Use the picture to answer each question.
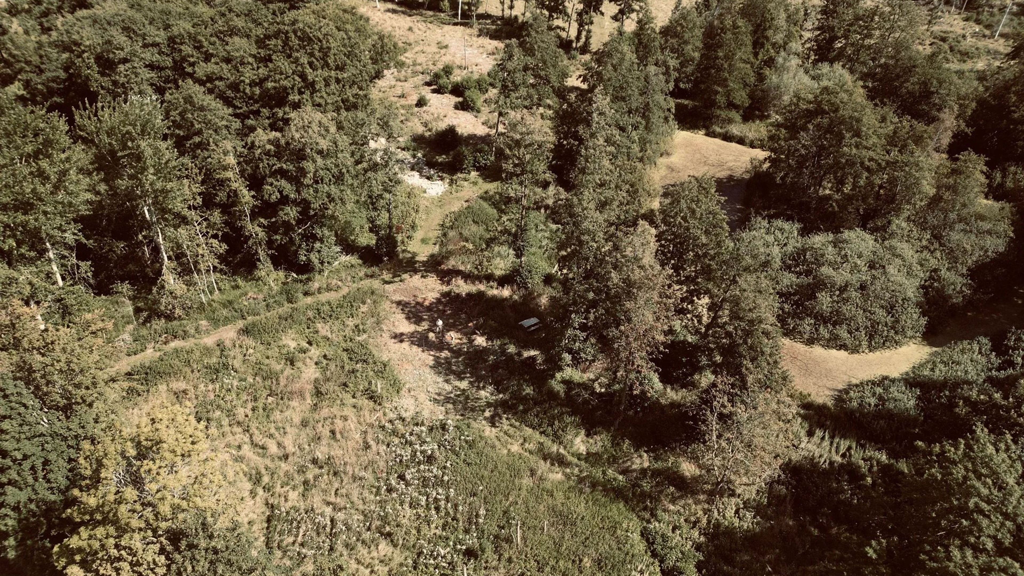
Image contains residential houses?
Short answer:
No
